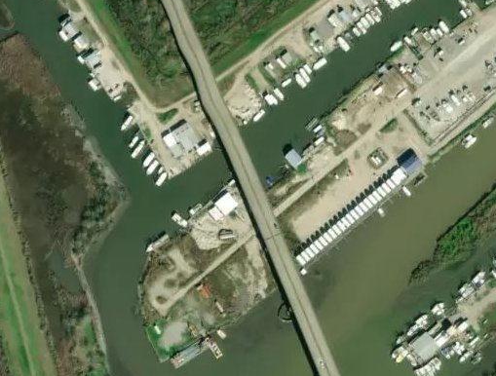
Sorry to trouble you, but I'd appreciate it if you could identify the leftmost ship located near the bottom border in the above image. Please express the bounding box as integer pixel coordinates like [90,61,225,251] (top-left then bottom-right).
[169,338,211,367]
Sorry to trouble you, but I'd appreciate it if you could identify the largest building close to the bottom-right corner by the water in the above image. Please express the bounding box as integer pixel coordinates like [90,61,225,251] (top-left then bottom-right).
[411,334,438,360]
